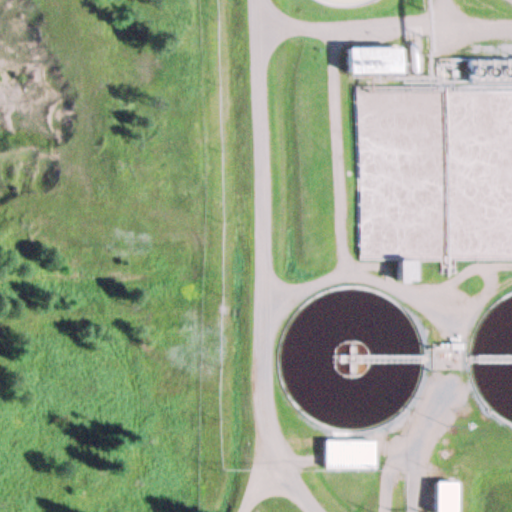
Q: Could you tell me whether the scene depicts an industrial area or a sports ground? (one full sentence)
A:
This image shows an industrial area.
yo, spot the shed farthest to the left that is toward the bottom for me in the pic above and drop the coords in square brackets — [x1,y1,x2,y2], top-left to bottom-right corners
[324,437,376,470]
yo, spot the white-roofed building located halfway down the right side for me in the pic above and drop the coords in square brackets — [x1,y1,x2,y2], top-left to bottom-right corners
[399,262,421,284]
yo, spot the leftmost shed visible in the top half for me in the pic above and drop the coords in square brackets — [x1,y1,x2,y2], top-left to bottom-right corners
[348,46,404,75]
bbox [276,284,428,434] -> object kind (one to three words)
storage tank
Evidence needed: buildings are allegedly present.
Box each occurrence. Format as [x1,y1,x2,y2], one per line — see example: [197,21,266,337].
[324,437,376,470]
[348,46,404,75]
[399,262,421,284]
[434,476,458,512]
[468,59,512,84]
